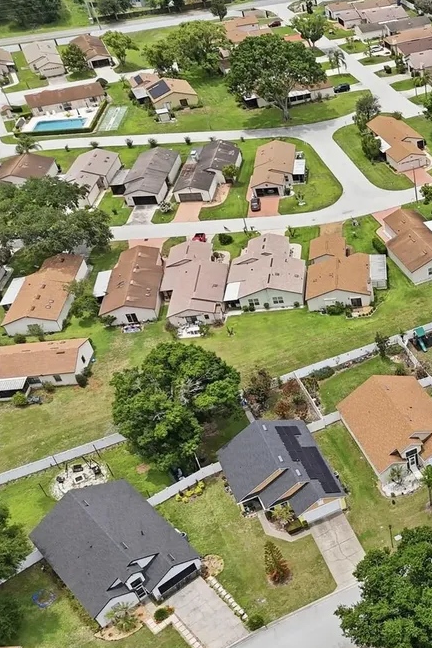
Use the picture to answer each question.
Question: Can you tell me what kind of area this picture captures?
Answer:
residential area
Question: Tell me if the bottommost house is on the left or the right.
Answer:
left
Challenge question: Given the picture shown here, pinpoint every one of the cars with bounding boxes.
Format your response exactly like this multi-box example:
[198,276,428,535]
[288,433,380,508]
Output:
[193,229,206,245]
[251,193,262,210]
[332,80,352,91]
[367,44,384,52]
[265,17,282,26]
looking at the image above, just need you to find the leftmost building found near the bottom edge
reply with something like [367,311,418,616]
[28,481,198,626]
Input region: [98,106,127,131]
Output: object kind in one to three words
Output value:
sports court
